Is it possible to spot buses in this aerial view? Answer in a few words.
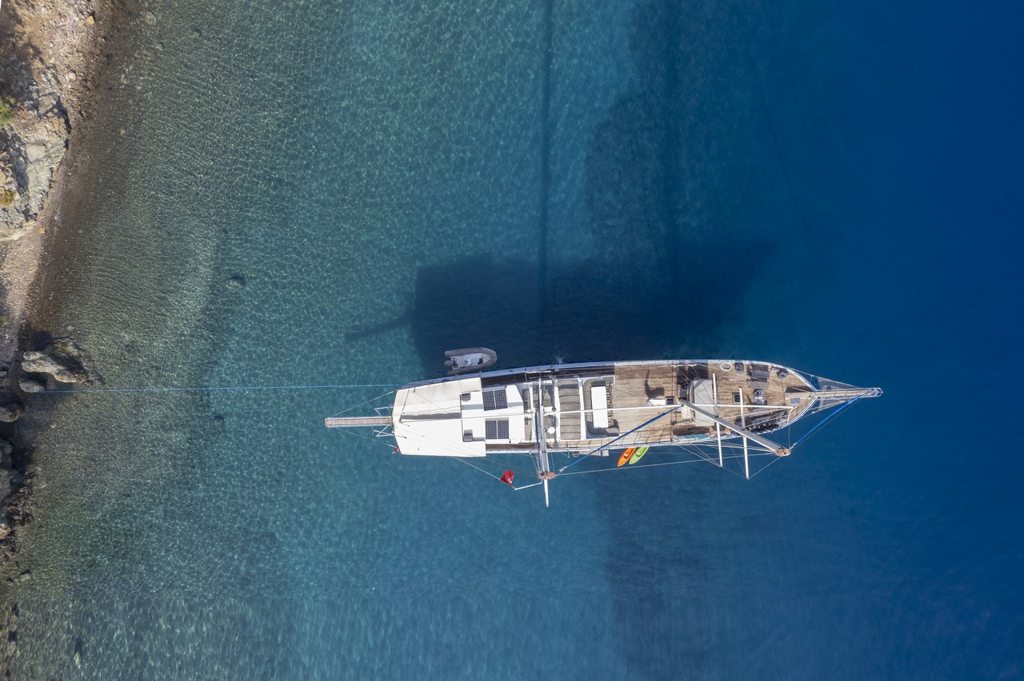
No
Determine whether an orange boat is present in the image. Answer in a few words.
Yes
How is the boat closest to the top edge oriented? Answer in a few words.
from left to right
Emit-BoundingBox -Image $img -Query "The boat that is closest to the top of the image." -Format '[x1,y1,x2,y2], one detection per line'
[444,346,498,375]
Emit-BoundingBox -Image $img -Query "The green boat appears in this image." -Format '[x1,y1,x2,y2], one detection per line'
[629,447,649,465]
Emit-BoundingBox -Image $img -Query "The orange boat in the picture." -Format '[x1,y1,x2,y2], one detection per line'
[618,448,636,467]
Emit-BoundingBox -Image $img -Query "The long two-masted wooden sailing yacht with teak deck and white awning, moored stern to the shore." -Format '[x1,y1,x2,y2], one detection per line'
[324,361,885,507]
